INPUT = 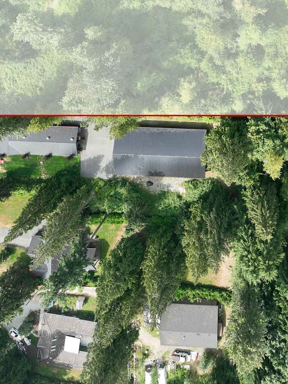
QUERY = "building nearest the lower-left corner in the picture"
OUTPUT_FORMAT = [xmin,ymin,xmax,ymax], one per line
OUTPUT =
[34,305,100,373]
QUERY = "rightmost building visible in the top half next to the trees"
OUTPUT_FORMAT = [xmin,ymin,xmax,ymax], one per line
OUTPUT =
[112,124,207,179]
